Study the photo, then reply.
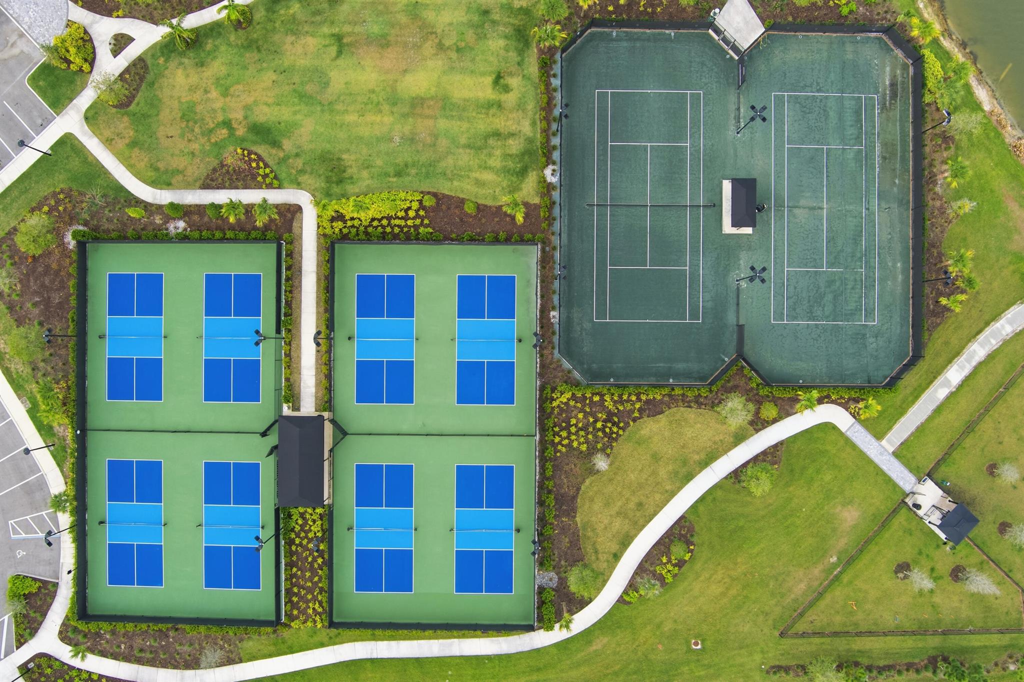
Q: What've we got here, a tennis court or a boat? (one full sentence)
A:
There is a tennis court in the scene.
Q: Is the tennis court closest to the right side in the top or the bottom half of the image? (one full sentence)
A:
The tennis court closest to the right side is in the top half of the image.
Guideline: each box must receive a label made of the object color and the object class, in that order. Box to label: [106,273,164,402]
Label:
blue sports court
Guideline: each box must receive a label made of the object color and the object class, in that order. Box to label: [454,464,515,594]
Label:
blue sports court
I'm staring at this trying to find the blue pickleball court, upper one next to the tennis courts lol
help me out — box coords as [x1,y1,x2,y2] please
[456,274,516,406]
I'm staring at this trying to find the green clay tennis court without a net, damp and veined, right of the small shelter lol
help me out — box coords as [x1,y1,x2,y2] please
[772,92,877,323]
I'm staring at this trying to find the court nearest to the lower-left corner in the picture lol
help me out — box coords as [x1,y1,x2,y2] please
[106,459,164,588]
